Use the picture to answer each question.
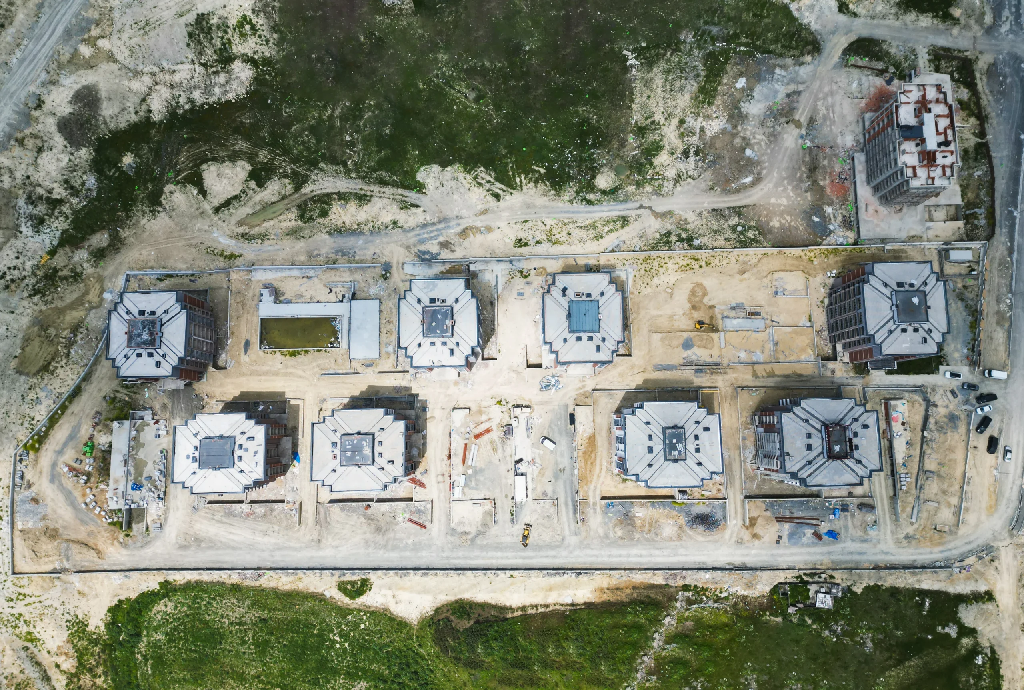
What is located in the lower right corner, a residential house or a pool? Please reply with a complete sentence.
Visible in the lower right corner is a residential house.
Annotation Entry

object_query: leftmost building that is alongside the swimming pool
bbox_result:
[104,291,218,389]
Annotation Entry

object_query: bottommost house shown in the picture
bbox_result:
[776,581,842,613]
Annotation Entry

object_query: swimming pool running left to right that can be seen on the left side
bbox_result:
[258,315,344,351]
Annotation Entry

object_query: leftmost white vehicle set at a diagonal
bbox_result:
[539,435,558,451]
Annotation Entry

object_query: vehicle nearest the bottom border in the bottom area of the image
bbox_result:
[518,516,532,549]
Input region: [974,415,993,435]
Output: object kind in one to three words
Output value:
car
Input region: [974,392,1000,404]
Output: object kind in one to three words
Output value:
vehicle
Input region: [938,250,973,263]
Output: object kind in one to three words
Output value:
shed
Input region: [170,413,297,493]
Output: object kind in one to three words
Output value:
building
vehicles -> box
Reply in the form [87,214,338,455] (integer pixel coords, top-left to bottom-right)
[539,435,558,451]
[974,404,994,415]
[974,415,993,435]
[960,381,980,392]
[982,369,1012,379]
[986,434,999,455]
[518,516,532,549]
[942,370,963,379]
[974,392,1000,404]
[1001,444,1013,463]
[691,321,714,330]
